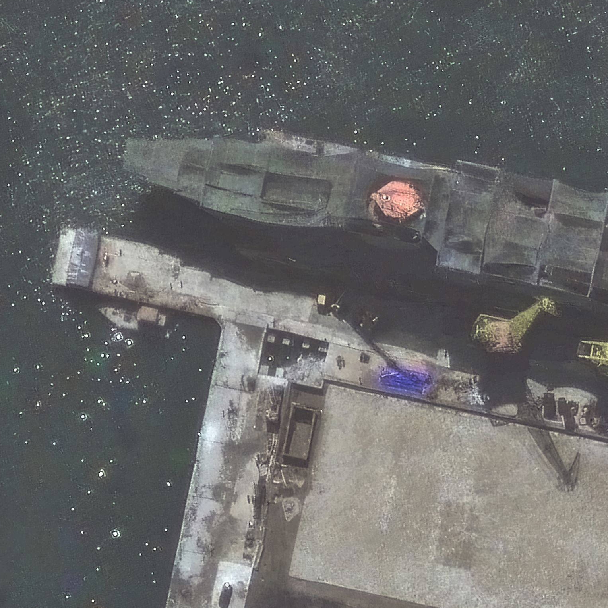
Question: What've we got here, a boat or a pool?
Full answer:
There is a boat in the scene.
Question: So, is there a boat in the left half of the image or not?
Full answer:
Yes, the scene does show a boat in the left half of the image.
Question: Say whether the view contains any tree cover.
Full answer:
No, no tree cover is visible.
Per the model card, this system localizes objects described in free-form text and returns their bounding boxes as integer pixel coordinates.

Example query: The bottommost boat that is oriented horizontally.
[99,305,167,330]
